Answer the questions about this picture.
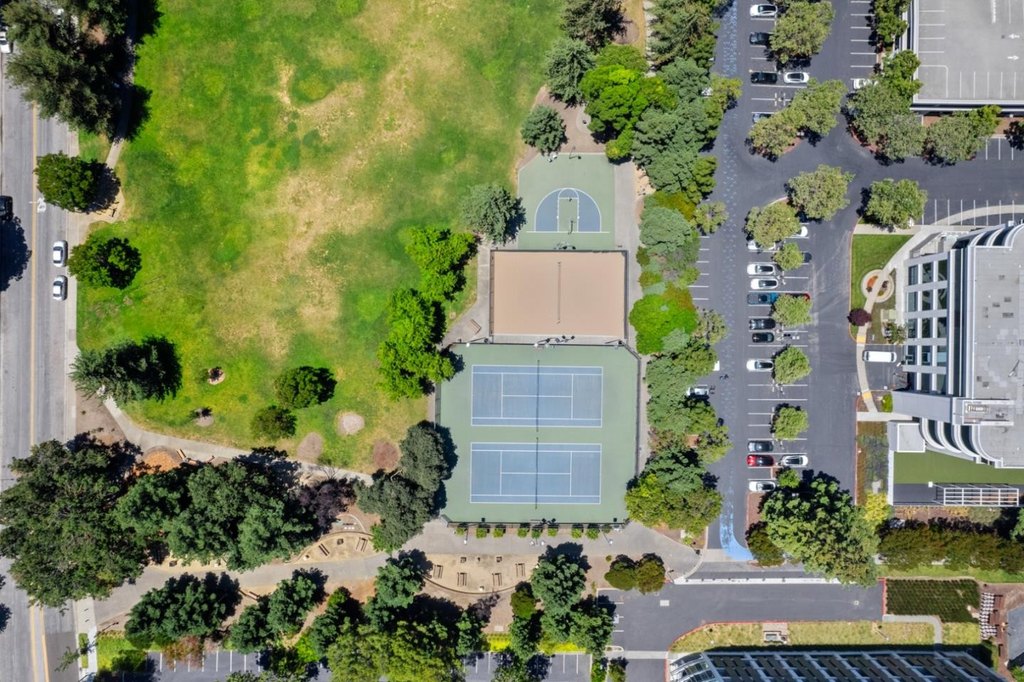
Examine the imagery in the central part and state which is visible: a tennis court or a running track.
tennis court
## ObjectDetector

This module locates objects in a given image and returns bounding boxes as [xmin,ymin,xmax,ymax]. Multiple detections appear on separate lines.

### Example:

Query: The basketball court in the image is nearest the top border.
[517,152,615,248]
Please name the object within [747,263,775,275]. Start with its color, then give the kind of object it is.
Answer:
white vehicle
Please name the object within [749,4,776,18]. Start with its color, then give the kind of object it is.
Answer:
white car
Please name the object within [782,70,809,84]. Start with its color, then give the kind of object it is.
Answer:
white car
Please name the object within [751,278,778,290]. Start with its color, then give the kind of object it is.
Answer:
white vehicle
